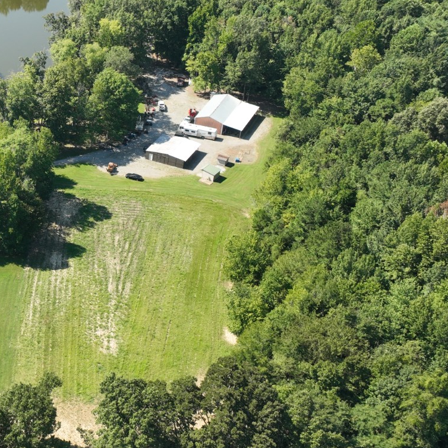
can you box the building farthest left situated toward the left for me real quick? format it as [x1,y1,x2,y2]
[146,134,198,168]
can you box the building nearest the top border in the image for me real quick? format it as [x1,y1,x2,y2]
[195,94,258,139]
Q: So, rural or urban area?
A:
rural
